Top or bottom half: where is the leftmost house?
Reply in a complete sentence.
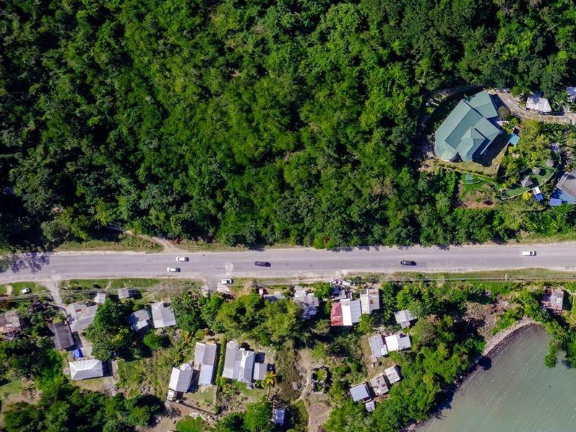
It is in the bottom half that the leftmost house appears.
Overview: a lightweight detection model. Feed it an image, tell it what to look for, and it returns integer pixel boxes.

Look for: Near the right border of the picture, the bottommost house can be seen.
[542,291,564,310]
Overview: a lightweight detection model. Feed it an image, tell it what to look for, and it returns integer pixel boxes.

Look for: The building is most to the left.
[0,311,24,341]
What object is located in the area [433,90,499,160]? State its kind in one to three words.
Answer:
house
